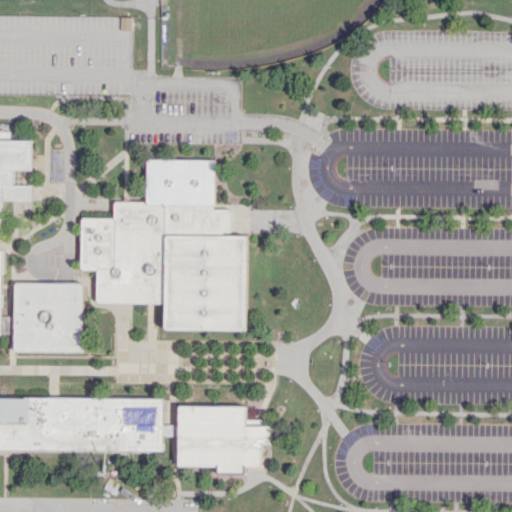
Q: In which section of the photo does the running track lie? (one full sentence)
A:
The running track is in the top part of the image.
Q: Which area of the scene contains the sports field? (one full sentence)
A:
You can find the sports field in the top area of the picture.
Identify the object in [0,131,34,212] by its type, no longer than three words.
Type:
building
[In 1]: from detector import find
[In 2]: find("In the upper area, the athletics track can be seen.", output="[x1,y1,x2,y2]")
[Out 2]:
[160,0,380,70]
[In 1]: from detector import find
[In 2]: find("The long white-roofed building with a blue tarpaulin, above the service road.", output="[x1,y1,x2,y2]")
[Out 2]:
[0,397,165,453]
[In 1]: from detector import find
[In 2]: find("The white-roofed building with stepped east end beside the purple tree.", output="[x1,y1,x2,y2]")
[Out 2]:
[177,404,271,474]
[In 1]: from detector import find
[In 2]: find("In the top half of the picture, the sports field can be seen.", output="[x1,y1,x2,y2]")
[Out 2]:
[160,0,380,70]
